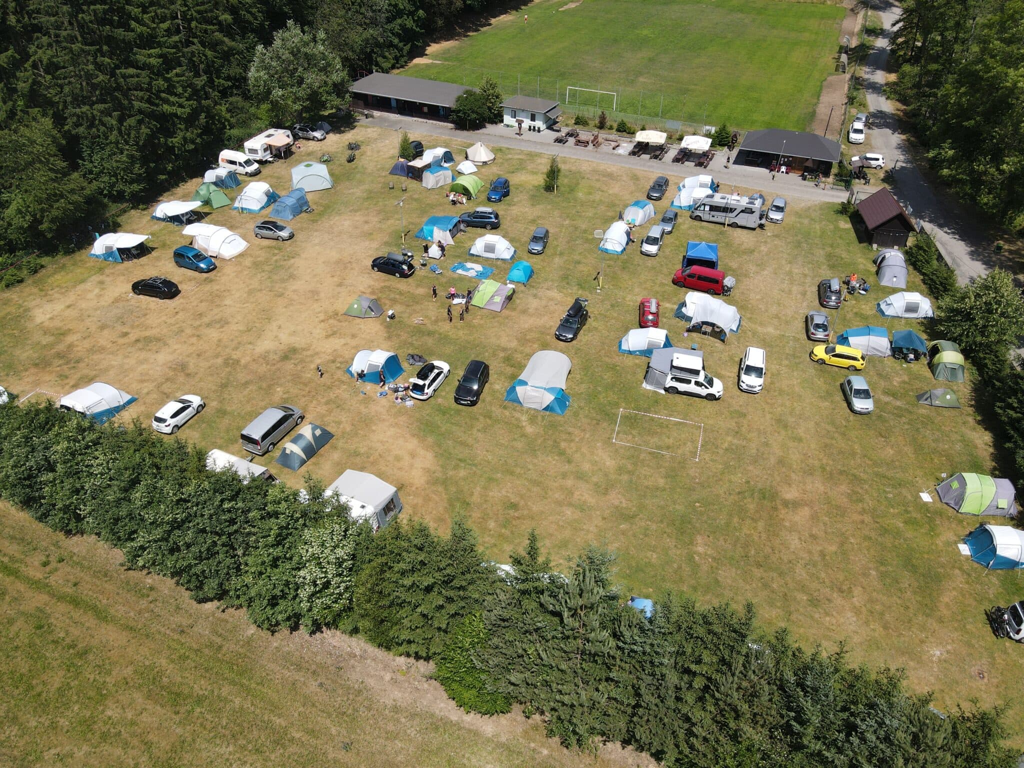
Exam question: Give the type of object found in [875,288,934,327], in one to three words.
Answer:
tent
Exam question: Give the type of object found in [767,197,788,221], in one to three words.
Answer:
car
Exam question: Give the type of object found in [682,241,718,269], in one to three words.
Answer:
gazebo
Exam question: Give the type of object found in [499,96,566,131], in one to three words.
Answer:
shed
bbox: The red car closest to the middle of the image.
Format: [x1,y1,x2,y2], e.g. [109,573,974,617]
[636,295,660,325]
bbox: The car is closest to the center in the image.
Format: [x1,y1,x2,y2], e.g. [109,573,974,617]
[455,354,493,402]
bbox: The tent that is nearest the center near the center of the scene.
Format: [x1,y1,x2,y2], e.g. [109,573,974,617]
[506,350,584,414]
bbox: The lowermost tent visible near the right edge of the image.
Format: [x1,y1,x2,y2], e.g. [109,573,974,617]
[962,518,1024,582]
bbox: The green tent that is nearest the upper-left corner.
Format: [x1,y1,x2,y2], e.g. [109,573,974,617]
[188,181,232,211]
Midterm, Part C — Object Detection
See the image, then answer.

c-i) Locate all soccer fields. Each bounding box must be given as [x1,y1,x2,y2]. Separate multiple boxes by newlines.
[407,0,846,132]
